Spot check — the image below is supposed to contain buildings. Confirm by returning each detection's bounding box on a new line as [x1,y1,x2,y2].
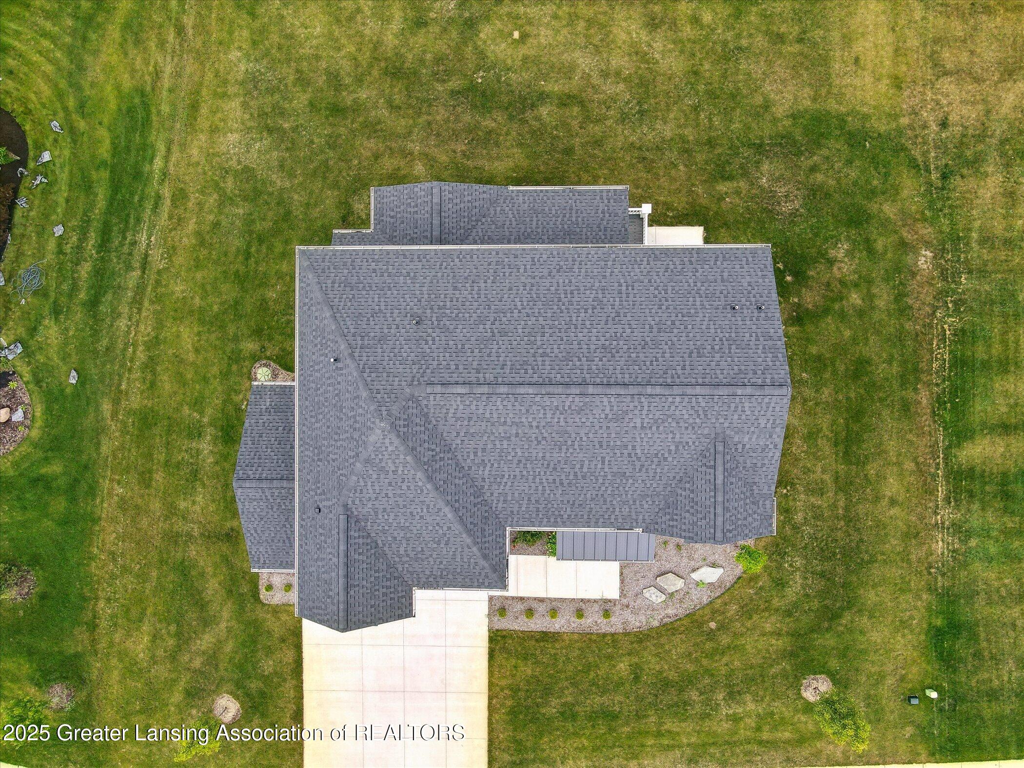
[234,182,791,631]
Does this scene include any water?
No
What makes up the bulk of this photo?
grass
